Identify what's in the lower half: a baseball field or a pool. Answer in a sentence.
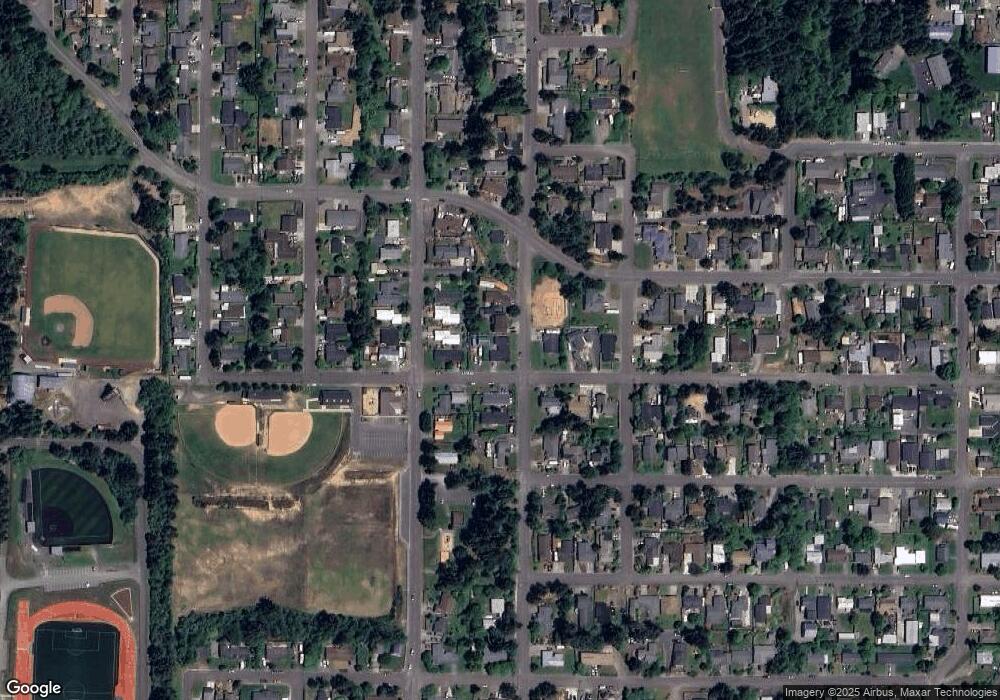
There is a baseball field in the lower half.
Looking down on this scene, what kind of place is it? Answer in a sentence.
It's a residential area.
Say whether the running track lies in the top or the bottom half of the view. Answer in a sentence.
You can find the running track in the bottom half.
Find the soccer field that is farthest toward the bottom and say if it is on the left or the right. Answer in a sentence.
The soccer field that is farthest toward the bottom is on the left side of the image.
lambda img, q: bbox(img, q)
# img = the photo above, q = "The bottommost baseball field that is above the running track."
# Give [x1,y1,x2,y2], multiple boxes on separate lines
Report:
[26,468,113,547]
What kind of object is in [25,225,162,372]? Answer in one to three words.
baseball field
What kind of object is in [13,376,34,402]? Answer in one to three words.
building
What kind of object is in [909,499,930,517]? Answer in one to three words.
house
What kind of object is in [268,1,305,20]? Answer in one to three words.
house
